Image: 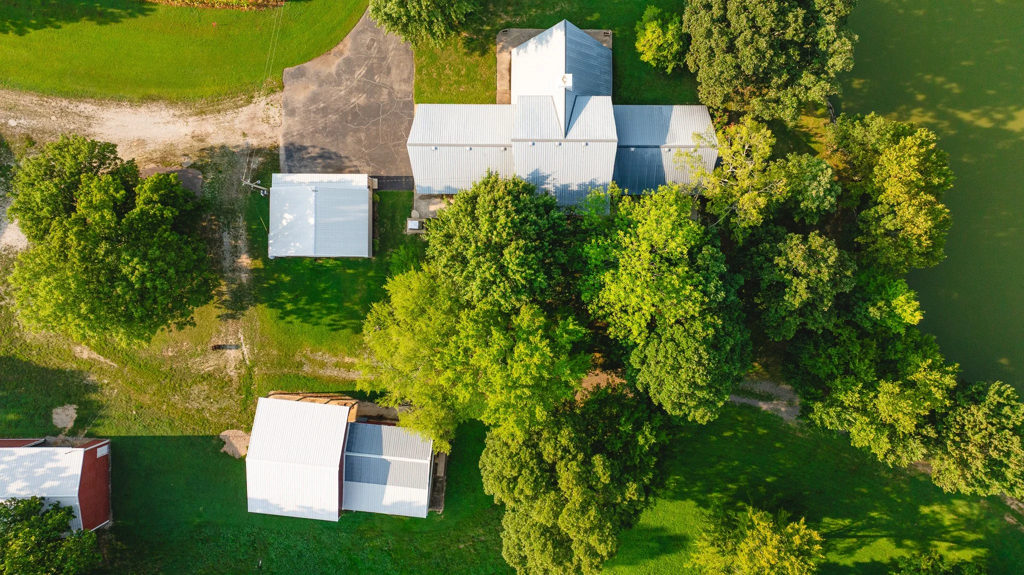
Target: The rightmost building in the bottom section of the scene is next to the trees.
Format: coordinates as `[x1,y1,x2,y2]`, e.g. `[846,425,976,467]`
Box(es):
[245,395,436,522]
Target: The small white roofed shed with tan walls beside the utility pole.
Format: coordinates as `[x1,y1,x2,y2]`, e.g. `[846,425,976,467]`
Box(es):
[269,173,374,257]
